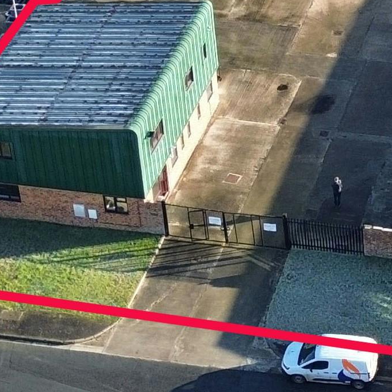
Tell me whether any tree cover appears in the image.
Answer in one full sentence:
No, the picture contains no tree cover.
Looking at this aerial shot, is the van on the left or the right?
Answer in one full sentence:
You can find the van on the right side of the picture.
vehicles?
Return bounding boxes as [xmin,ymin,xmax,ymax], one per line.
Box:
[283,334,383,392]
